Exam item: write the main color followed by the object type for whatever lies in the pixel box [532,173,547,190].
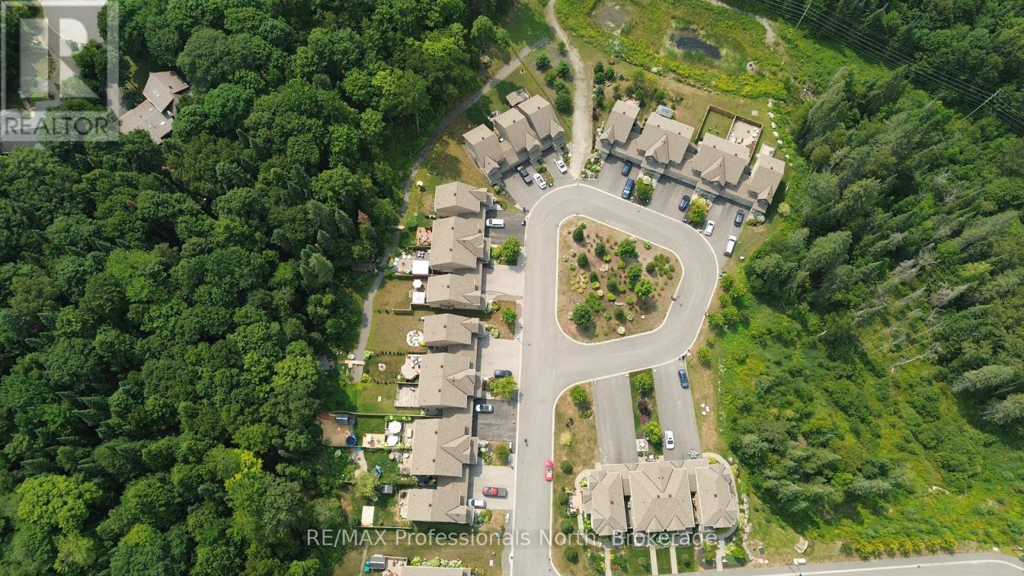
white car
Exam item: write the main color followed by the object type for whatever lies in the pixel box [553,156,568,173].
white car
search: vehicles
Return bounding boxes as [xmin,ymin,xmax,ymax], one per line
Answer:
[532,173,547,190]
[486,219,506,228]
[704,220,715,237]
[678,195,689,211]
[482,486,507,497]
[723,236,737,256]
[664,429,674,450]
[621,179,635,198]
[553,156,568,173]
[732,209,746,227]
[493,369,513,378]
[544,461,554,481]
[475,403,494,413]
[678,369,690,389]
[515,166,533,186]
[469,498,486,508]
